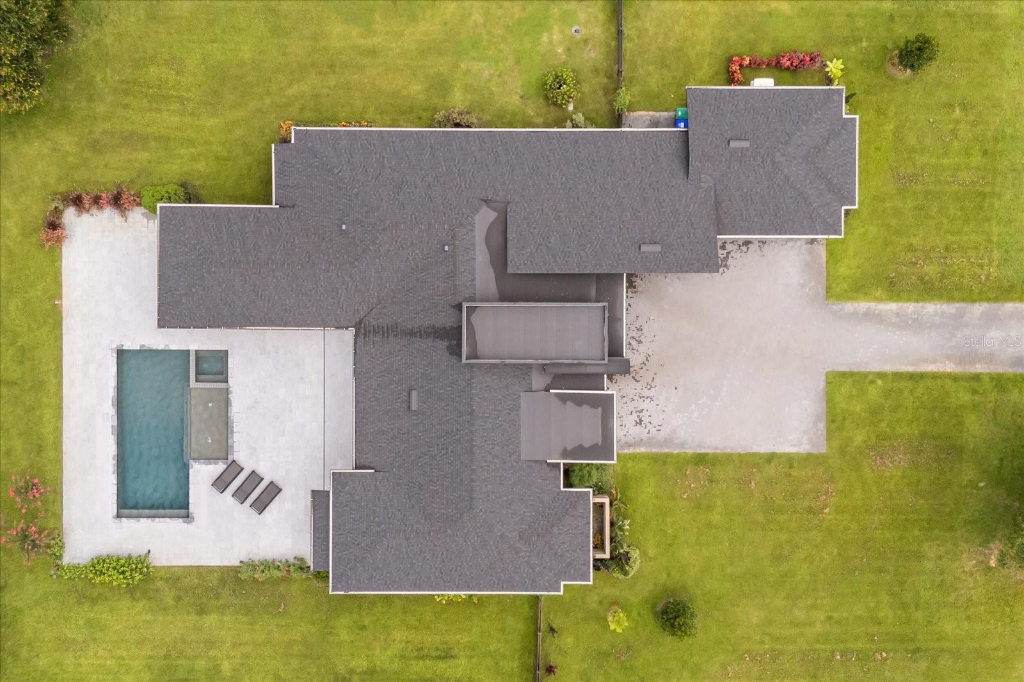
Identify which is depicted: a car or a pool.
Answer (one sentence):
I can see a pool in this picture.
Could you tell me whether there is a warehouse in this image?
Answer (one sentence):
No, the photo shows no warehouse.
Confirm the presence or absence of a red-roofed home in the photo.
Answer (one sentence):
No, no red-roofed home can be seen from above.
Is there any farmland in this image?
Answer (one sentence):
No, the picture contains no farmland.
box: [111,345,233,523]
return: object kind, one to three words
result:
swimming pool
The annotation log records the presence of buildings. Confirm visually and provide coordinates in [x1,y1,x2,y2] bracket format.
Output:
[157,86,859,594]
